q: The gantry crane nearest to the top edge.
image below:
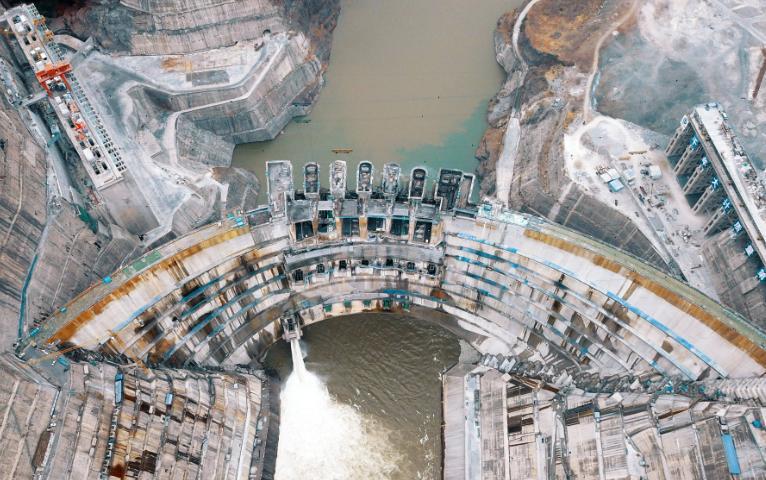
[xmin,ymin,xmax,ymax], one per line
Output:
[26,58,75,101]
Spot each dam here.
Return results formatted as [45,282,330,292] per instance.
[22,160,766,386]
